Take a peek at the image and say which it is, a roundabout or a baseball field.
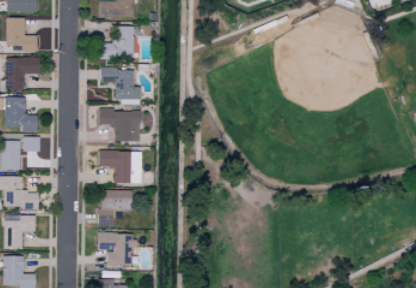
baseball field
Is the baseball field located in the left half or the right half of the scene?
right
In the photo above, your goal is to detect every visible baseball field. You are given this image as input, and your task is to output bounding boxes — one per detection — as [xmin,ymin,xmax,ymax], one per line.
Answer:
[200,10,414,192]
